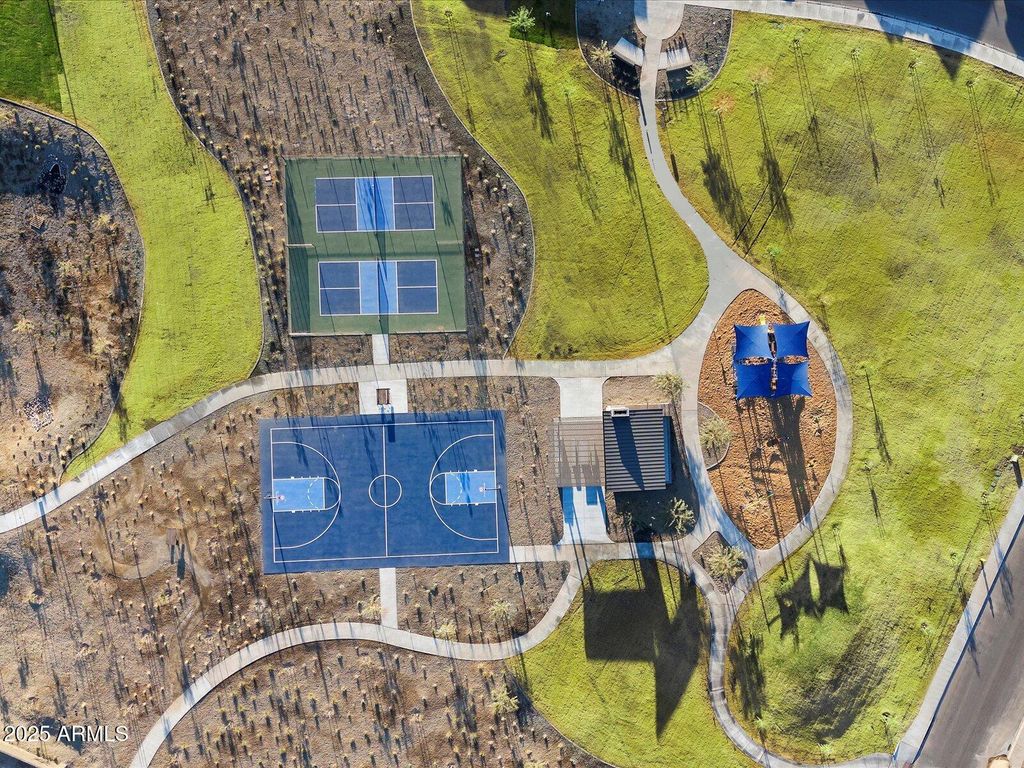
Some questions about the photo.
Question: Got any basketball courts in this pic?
Yes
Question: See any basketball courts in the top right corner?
No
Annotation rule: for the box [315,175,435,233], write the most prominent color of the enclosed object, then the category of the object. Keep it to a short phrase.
blue sports court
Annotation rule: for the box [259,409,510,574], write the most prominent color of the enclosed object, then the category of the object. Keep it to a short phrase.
blue basketball court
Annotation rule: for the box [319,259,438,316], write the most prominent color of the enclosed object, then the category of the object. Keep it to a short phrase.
blue sports court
